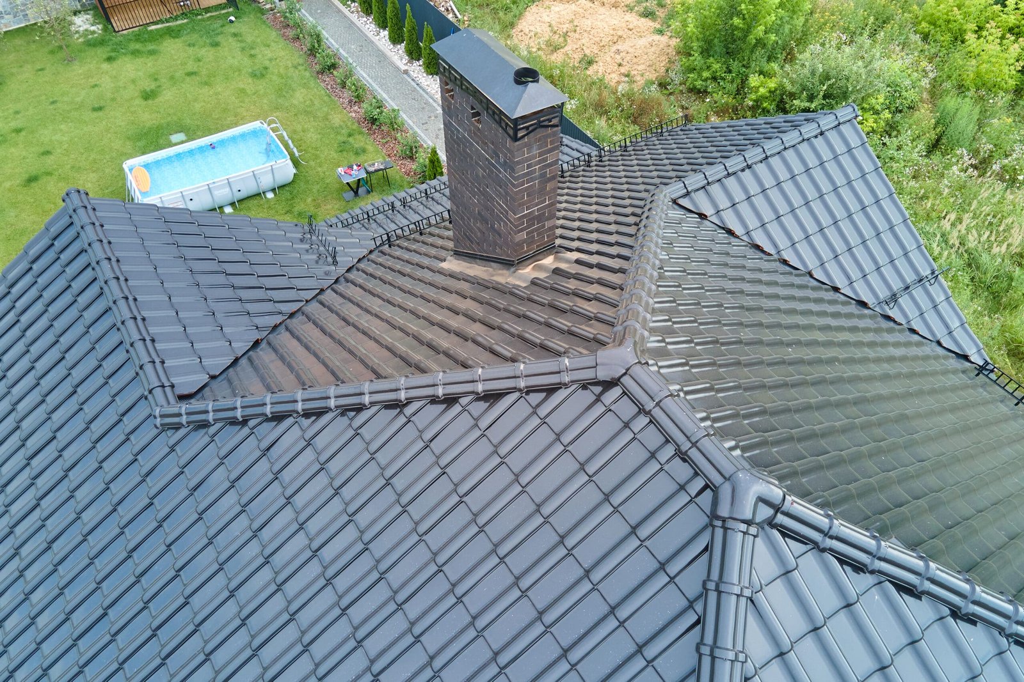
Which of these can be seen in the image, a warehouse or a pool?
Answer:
pool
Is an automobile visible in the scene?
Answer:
No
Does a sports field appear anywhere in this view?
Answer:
No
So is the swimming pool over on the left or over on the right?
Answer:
left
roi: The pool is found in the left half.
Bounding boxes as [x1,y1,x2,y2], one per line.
[122,119,298,215]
